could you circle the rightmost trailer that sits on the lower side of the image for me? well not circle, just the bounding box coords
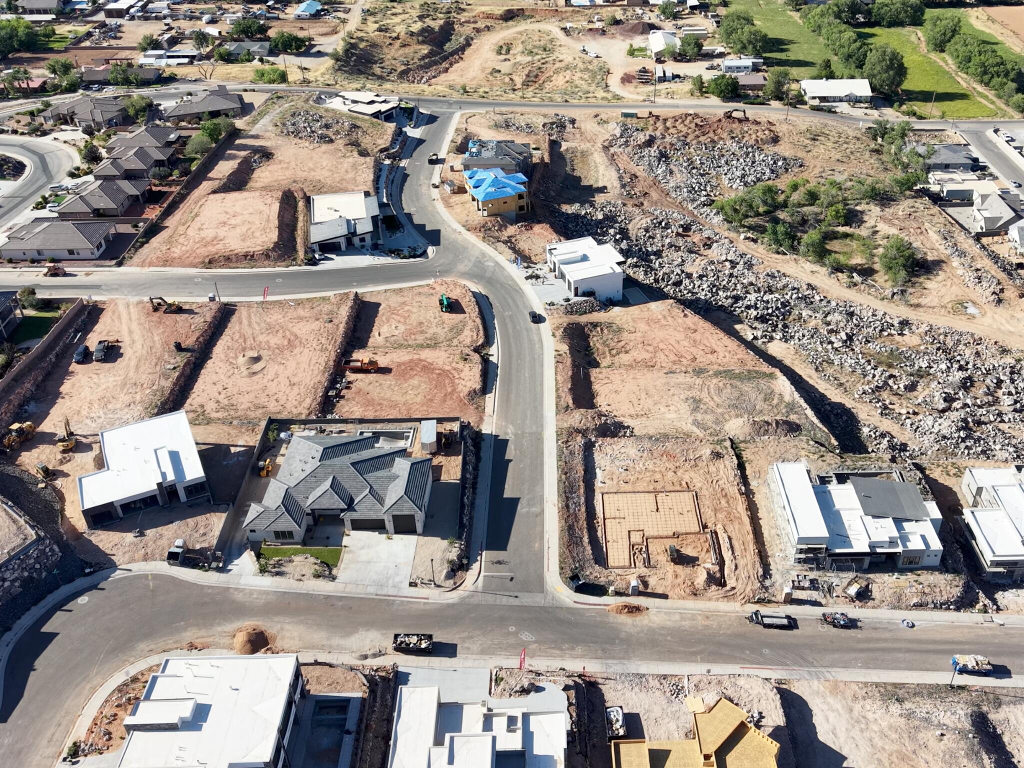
[940,649,1000,676]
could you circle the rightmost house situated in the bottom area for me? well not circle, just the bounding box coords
[958,467,1024,584]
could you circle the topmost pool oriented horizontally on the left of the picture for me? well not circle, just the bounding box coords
[357,427,413,448]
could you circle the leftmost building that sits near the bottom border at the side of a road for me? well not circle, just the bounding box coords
[118,655,306,768]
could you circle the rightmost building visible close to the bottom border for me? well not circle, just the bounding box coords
[612,698,780,768]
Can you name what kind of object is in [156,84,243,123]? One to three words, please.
house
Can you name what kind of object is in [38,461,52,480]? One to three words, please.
work vehicle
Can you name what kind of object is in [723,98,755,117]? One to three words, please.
work vehicle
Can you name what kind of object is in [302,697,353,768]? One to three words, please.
swimming pool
